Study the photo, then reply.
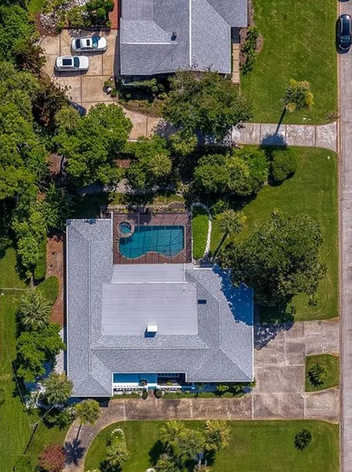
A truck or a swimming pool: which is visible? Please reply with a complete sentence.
Of the two, only a swimming pool appears.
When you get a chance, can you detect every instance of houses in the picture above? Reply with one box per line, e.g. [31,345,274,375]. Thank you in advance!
[67,219,254,397]
[119,0,248,78]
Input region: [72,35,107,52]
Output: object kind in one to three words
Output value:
car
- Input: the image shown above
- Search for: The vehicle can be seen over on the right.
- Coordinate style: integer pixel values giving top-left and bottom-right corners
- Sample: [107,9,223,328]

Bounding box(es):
[336,14,352,51]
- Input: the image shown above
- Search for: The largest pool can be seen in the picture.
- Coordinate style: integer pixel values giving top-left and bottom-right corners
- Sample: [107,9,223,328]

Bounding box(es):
[118,224,187,260]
